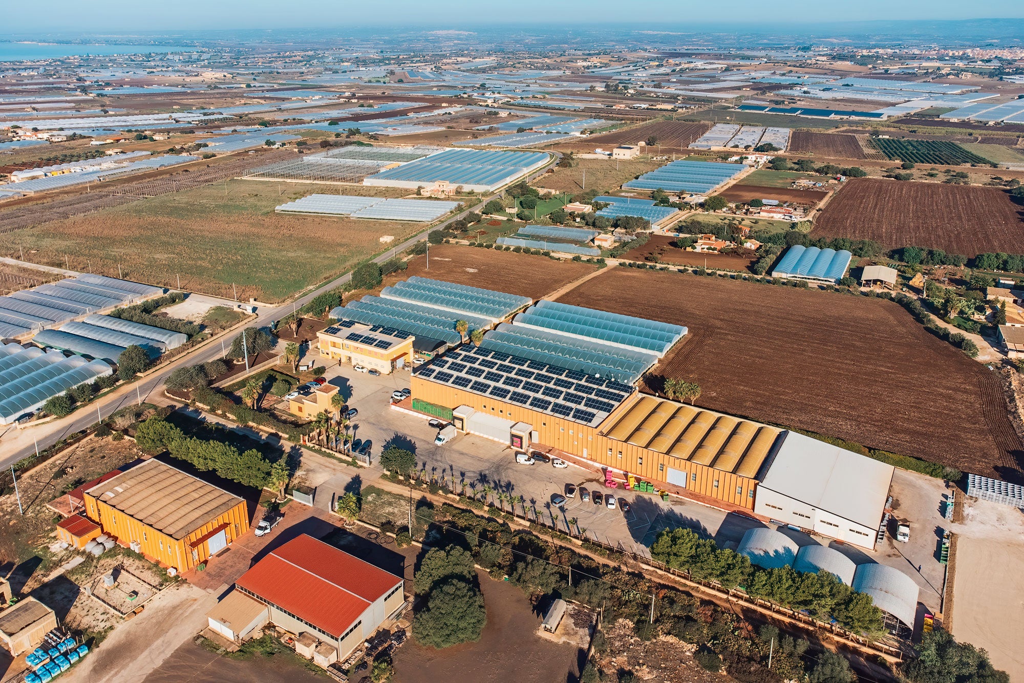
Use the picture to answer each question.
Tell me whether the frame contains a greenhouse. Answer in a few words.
Yes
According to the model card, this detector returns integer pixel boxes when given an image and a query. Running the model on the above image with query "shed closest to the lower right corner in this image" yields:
[853,563,920,648]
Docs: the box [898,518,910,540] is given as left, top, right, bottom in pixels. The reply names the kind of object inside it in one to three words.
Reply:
vehicle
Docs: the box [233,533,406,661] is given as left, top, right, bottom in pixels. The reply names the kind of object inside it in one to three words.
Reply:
warehouse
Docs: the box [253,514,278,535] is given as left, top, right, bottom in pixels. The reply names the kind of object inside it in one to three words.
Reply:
truck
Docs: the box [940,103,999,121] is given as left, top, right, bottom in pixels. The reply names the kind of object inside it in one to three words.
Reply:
greenhouse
